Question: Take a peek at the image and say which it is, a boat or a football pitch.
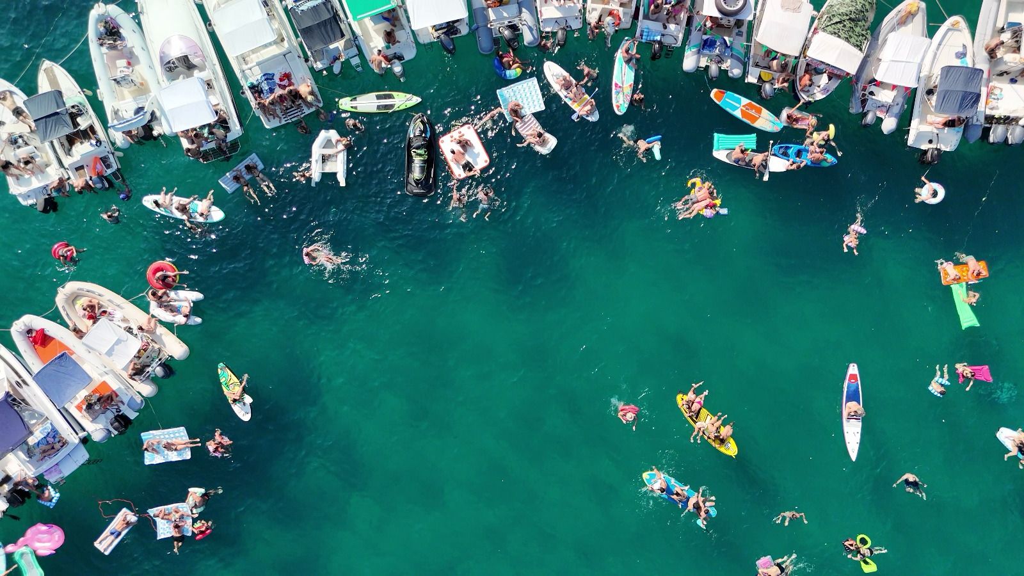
boat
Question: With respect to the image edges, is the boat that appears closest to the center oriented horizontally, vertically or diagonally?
vertically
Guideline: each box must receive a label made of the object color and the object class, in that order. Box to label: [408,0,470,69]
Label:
white boat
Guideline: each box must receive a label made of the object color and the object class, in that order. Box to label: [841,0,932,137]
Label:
white boat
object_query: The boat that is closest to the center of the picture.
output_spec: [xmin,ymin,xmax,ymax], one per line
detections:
[405,114,436,196]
